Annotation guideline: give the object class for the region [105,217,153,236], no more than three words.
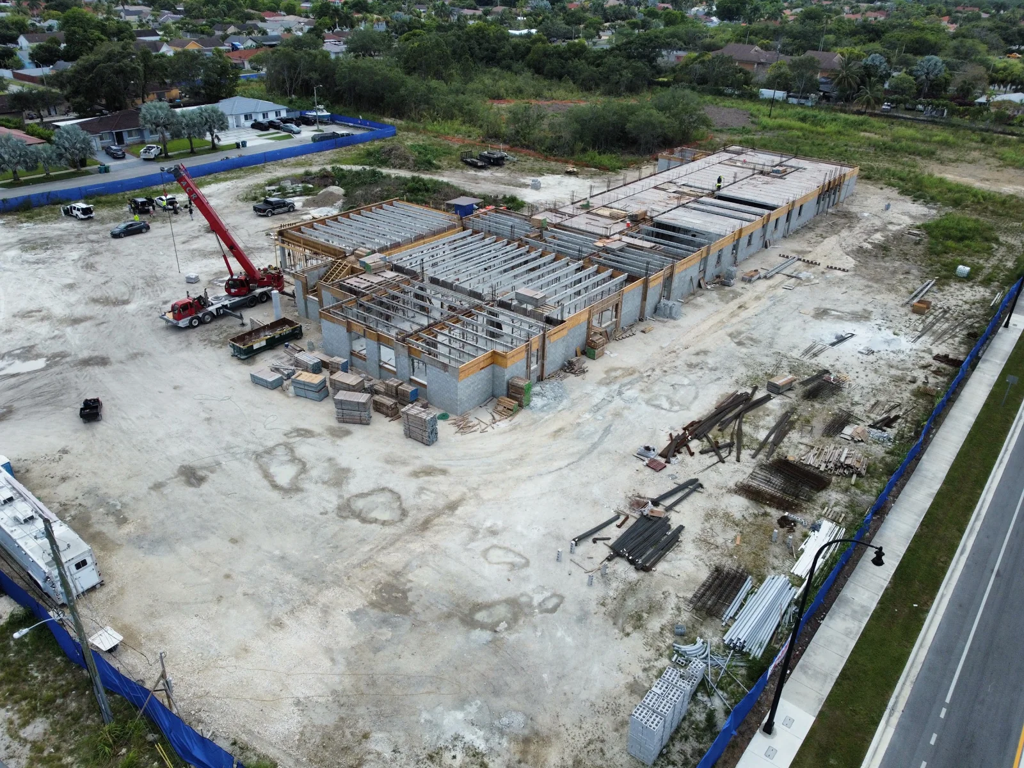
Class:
car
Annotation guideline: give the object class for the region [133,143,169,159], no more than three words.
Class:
vehicle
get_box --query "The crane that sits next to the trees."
[150,155,299,327]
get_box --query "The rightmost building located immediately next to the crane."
[274,143,860,416]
